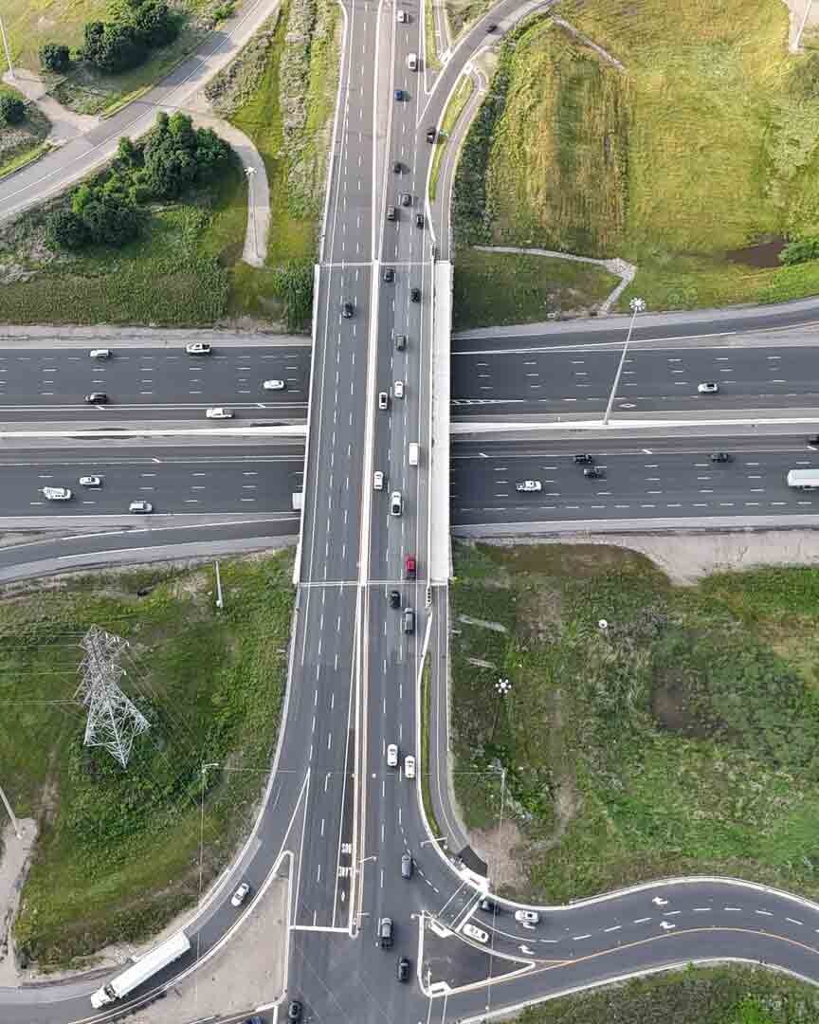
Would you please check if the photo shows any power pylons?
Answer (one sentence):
Yes, the frame does contain a power pylon.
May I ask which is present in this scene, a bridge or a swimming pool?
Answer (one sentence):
Of the two, only a bridge appears.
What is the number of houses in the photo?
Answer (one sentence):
The picture shows no houses.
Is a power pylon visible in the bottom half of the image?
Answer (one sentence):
Yes, a power pylon is visible in the bottom half of the image.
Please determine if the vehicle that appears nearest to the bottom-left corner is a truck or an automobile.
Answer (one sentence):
It turns out the vehicle that appears nearest to the bottom-left corner is a truck.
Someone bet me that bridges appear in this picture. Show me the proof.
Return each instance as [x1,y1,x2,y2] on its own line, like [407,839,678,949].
[289,244,455,611]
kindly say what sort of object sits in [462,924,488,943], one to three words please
car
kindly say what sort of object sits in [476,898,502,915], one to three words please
car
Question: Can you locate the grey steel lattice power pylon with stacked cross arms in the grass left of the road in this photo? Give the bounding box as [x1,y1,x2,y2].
[58,617,149,765]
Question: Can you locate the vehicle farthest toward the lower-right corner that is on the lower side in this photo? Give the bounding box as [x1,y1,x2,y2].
[515,910,540,924]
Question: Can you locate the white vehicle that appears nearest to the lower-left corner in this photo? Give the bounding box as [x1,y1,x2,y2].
[83,924,197,1013]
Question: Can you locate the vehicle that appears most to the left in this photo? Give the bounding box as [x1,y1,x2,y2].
[40,487,71,500]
